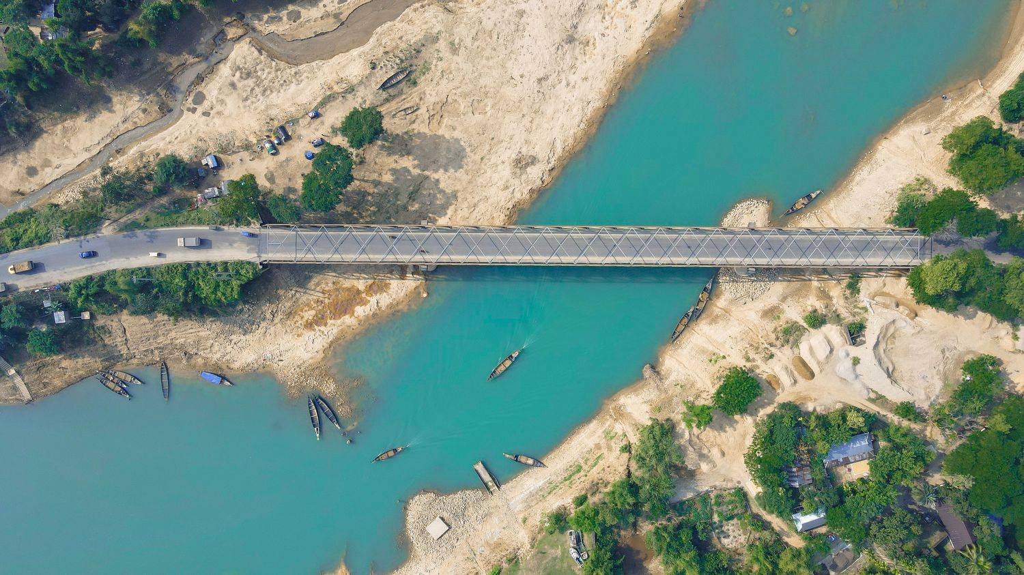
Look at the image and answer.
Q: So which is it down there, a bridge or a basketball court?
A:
bridge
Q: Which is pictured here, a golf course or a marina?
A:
marina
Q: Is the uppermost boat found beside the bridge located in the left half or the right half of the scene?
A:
right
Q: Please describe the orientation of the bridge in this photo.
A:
from left to right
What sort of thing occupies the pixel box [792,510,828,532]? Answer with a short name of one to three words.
house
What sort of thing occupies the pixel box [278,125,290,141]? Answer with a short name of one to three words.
vehicle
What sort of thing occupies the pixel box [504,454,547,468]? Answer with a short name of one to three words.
boat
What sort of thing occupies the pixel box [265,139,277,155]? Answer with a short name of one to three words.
vehicle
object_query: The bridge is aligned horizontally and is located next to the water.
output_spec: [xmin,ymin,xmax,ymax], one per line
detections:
[261,221,930,272]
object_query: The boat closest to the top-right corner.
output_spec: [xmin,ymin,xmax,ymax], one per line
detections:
[786,190,823,215]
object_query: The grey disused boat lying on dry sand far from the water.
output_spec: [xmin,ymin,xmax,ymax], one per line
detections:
[375,69,410,89]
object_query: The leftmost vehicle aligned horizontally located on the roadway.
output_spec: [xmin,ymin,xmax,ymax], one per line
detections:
[6,261,32,275]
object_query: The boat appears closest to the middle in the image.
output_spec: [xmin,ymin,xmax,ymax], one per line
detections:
[486,348,525,382]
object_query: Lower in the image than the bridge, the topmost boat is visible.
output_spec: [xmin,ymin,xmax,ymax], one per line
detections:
[696,277,714,321]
